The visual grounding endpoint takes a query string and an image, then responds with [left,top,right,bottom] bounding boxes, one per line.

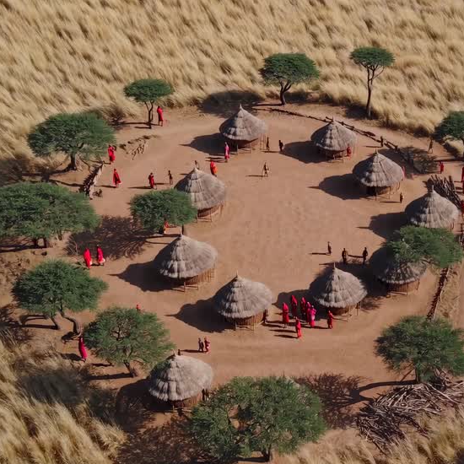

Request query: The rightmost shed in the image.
[406,181,461,231]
